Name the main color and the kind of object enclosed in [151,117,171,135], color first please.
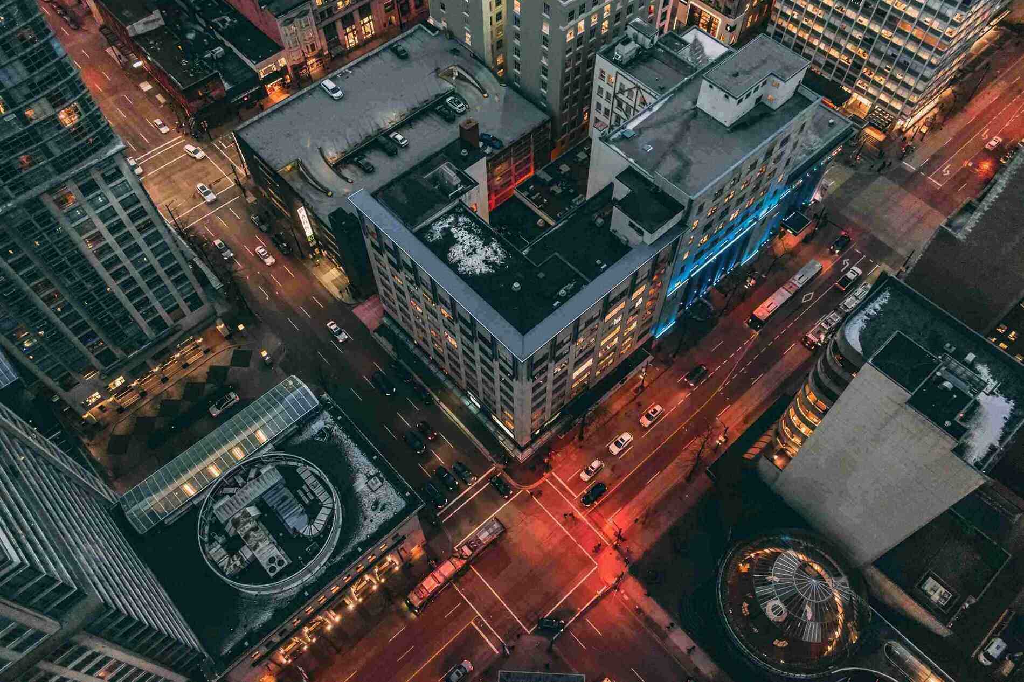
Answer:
white car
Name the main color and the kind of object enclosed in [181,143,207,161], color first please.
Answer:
white car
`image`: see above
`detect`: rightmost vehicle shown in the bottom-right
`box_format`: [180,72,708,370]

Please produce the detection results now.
[974,635,1012,671]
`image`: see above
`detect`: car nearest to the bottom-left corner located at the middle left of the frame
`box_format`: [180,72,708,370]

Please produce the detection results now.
[208,391,241,418]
